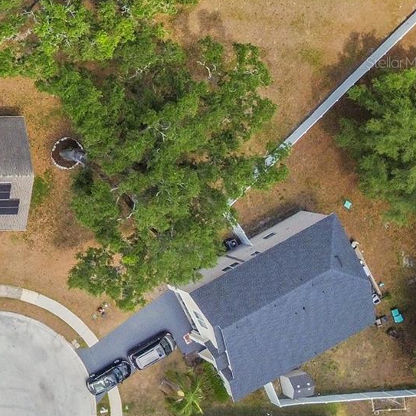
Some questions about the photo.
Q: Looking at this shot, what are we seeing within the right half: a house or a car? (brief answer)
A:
house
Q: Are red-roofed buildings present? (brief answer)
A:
No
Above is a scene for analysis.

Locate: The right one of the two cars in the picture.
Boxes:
[123,332,175,370]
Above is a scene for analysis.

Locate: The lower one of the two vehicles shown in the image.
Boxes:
[83,360,132,396]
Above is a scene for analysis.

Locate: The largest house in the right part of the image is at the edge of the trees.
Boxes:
[174,212,376,403]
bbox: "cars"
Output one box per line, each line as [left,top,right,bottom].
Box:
[123,332,175,370]
[83,360,132,396]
